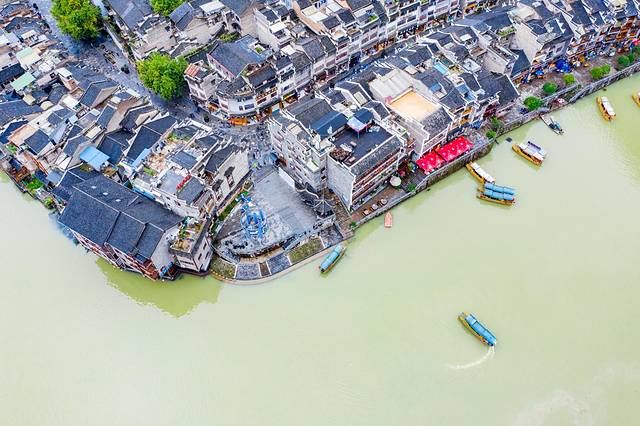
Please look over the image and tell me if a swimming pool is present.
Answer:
No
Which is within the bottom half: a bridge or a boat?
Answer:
boat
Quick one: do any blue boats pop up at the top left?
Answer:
No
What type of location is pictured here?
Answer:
residential area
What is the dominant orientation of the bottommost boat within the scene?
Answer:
diagonally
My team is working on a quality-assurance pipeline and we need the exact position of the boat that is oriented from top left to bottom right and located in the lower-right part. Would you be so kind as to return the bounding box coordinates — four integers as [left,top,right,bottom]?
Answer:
[459,315,498,349]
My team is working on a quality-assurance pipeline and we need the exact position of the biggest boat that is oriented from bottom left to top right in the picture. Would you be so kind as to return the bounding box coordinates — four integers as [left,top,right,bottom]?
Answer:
[319,244,347,274]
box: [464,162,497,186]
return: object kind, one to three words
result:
boat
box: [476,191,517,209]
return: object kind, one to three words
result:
boat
